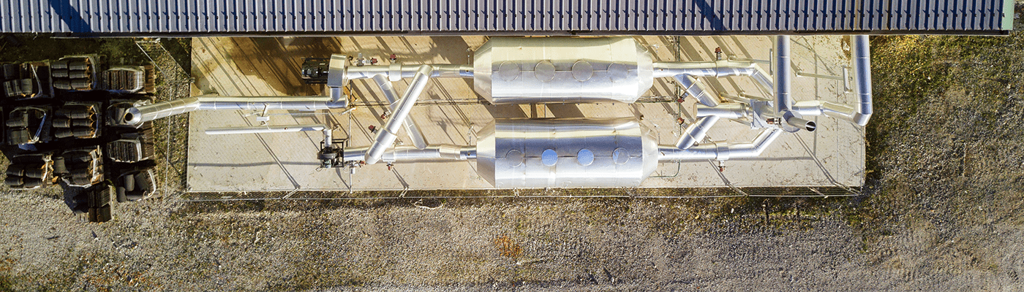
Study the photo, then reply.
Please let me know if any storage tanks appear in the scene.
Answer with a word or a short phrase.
Yes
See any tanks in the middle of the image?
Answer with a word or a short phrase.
Yes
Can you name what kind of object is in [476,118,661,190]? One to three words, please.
storage tank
